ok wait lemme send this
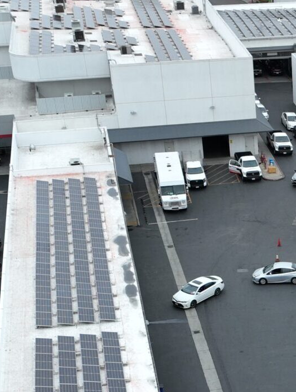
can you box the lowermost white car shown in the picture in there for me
[178,279,231,312]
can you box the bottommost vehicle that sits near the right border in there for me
[251,259,296,283]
